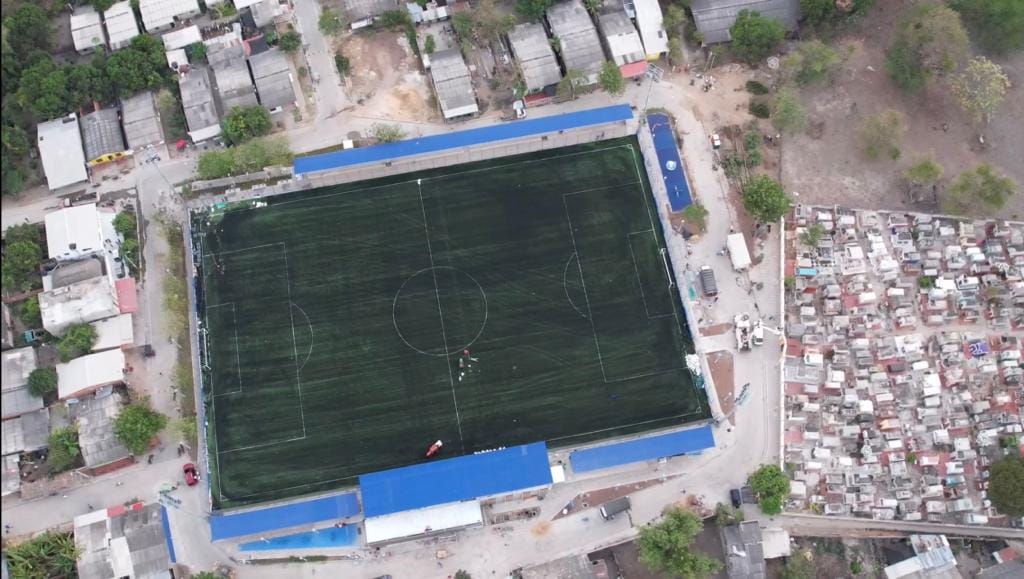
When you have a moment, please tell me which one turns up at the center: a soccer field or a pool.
soccer field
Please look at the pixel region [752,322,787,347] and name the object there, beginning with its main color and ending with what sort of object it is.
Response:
white truck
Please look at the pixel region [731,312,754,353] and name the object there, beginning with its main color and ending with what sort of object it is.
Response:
white truck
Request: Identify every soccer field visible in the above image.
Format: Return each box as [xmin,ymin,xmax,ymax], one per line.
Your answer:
[191,135,713,514]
